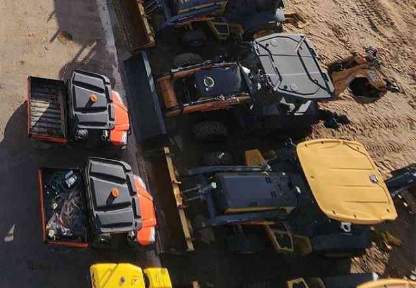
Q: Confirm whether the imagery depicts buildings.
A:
No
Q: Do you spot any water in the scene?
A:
No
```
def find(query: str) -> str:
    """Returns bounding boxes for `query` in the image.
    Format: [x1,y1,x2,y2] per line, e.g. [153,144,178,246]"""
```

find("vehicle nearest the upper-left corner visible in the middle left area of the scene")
[22,72,139,163]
